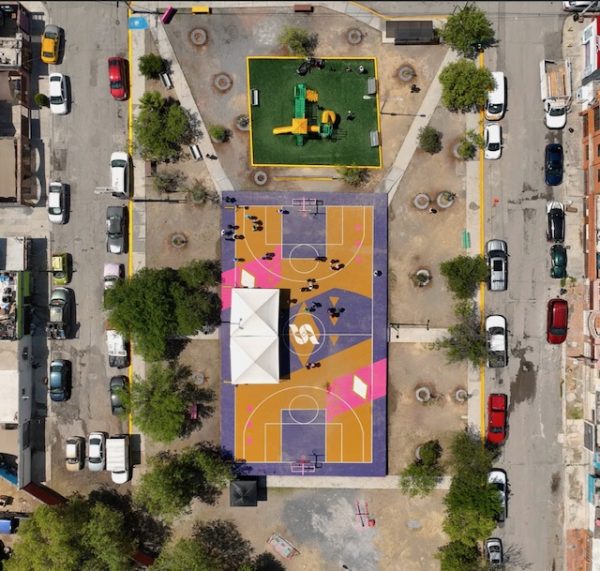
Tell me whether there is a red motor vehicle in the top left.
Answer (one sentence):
Yes, you'll find a red motor vehicle in the top left.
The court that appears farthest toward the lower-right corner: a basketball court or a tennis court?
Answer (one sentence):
It looks like the court that appears farthest toward the lower-right corner is a basketball court.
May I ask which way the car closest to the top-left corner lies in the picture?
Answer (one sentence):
I'd say the car closest to the top-left corner is aligned from top to bottom in the picture.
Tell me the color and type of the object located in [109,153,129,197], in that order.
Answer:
white car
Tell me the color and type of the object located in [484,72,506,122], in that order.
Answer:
white vehicle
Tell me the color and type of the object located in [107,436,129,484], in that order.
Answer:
white truck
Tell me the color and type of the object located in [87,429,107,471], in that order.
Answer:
white car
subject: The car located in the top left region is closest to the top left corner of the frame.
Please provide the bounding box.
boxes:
[42,25,62,66]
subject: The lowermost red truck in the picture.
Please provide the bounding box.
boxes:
[486,393,507,444]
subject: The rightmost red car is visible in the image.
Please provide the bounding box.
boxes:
[546,298,568,345]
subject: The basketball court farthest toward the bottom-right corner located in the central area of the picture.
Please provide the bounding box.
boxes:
[220,192,387,476]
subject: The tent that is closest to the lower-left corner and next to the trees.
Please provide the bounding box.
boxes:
[230,476,259,507]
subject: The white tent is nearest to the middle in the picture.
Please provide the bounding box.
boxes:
[231,289,281,336]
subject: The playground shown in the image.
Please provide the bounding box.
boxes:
[247,56,383,167]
